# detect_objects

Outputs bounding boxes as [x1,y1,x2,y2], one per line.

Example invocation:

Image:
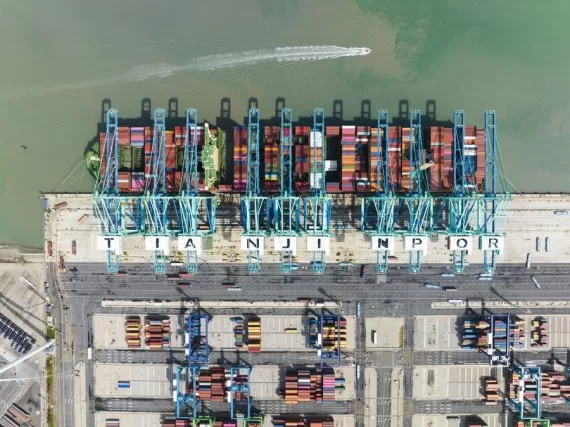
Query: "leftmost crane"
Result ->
[89,107,150,274]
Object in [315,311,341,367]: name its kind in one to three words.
container crane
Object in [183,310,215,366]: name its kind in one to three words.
container crane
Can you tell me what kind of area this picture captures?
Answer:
port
